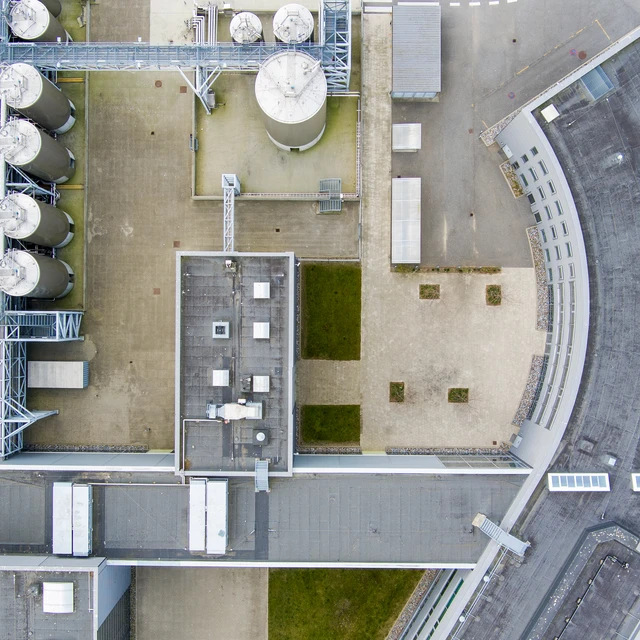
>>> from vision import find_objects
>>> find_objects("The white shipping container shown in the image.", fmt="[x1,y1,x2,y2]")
[28,360,91,388]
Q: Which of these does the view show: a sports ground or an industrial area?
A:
industrial area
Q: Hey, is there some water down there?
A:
No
